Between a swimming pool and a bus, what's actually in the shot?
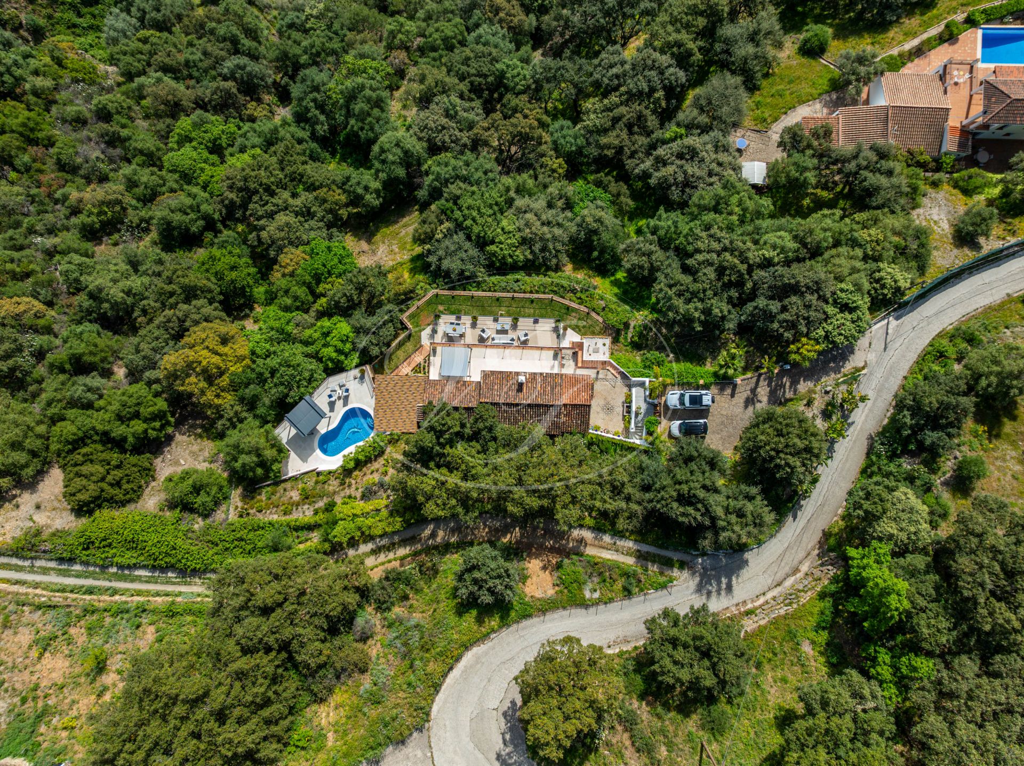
swimming pool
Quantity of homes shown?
2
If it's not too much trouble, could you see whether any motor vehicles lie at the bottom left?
No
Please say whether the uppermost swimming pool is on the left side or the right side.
right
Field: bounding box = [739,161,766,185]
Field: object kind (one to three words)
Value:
shed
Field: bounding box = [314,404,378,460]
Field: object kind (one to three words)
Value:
swimming pool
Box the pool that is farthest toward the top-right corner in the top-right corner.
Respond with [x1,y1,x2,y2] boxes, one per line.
[978,25,1024,65]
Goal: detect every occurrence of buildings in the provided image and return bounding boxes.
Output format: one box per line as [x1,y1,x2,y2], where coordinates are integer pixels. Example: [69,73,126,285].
[739,161,766,185]
[373,370,594,437]
[792,71,973,165]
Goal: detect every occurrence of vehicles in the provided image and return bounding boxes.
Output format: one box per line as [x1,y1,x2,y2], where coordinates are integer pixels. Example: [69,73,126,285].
[668,418,714,440]
[666,388,718,412]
